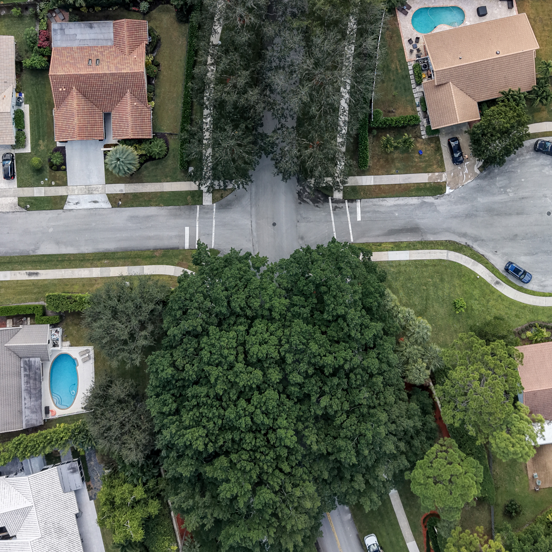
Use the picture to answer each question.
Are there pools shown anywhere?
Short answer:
Yes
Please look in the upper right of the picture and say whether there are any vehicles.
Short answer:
Yes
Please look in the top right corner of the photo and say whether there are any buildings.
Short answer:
Yes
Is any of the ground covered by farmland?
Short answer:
No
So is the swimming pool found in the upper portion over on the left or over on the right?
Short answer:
right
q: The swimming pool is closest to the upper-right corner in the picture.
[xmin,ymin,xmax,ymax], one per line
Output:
[410,4,467,34]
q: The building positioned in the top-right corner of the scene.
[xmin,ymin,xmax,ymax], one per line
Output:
[421,12,540,130]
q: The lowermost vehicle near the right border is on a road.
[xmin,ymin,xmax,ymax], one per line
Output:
[501,260,534,285]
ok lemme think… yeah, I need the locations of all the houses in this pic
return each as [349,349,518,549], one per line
[512,340,552,450]
[421,12,540,130]
[0,451,90,552]
[0,323,55,432]
[49,19,153,141]
[0,36,20,144]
